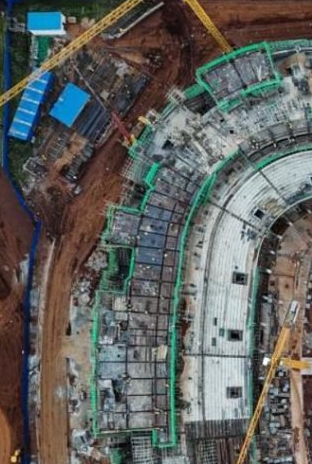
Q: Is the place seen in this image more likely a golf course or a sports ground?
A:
sports ground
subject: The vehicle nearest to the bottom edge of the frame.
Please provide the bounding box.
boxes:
[9,449,21,464]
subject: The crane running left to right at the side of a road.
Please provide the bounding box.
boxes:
[0,0,241,109]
